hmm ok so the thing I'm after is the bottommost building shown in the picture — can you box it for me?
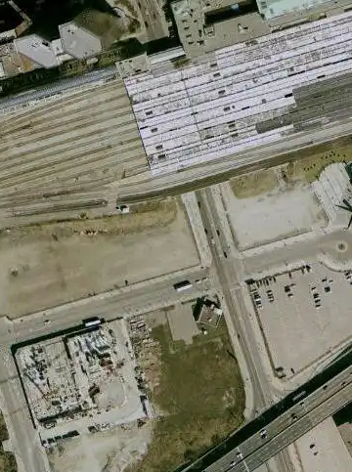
[198,300,222,328]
